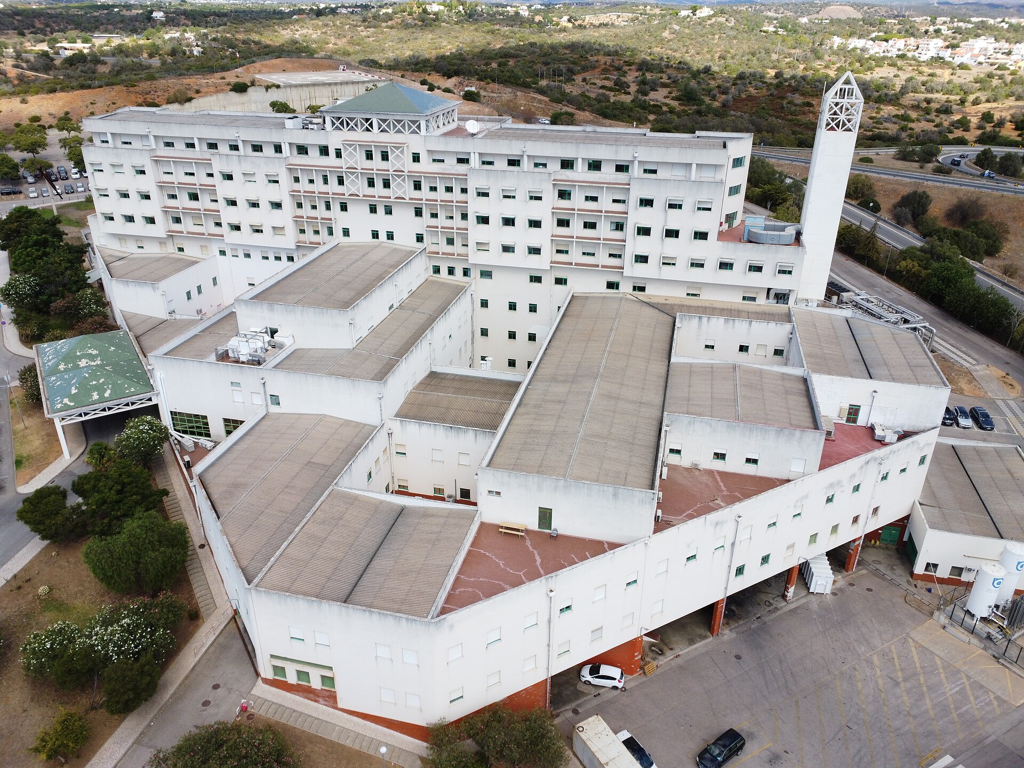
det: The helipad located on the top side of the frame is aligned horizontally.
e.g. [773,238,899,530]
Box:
[255,70,396,87]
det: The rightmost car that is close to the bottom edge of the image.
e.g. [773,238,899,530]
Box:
[695,721,748,768]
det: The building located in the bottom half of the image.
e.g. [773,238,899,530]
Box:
[905,438,1024,588]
